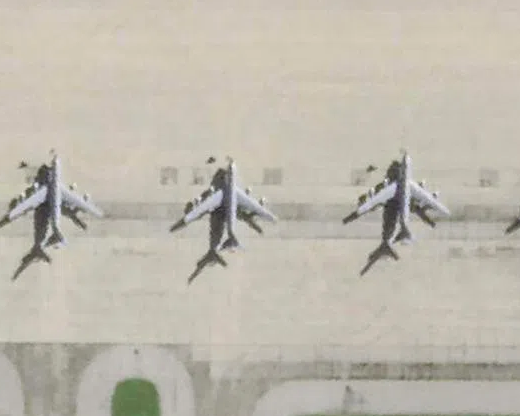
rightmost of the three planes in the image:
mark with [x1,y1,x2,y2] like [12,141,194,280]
[361,154,451,246]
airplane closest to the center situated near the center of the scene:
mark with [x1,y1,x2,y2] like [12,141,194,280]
[187,160,277,253]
